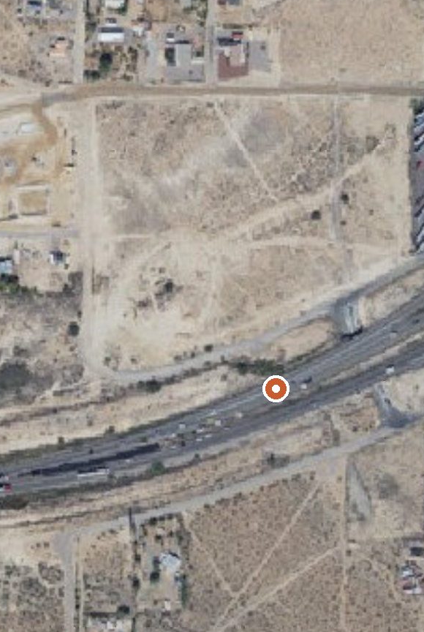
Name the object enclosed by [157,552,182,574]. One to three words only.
house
